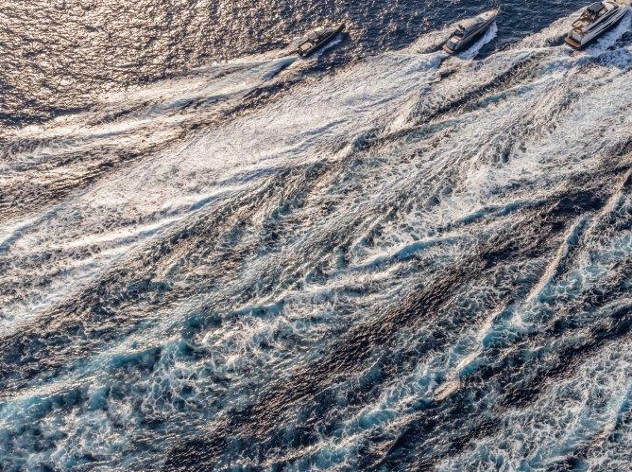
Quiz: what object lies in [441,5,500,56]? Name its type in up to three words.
boat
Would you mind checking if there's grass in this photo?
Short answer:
No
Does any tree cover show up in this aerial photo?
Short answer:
No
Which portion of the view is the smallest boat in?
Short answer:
top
